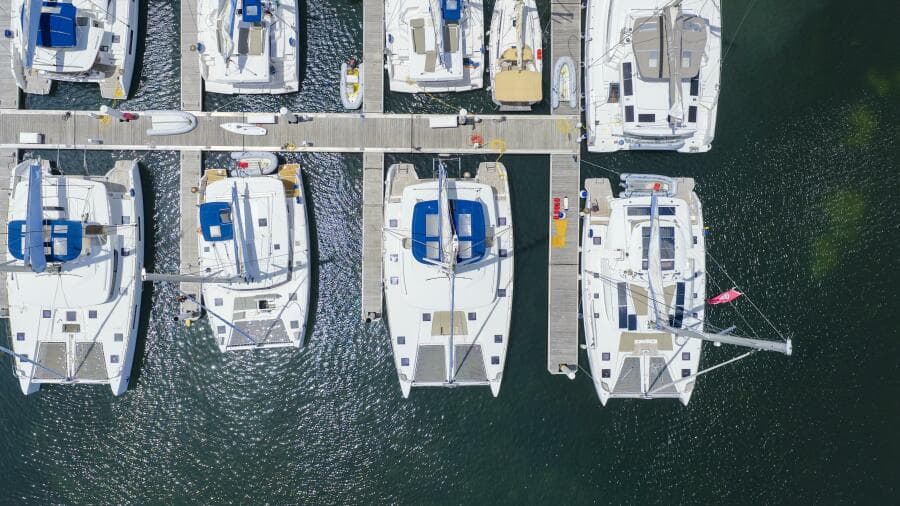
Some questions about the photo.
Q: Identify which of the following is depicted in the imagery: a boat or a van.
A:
boat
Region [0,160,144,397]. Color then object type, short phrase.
white boat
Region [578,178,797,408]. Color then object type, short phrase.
white boat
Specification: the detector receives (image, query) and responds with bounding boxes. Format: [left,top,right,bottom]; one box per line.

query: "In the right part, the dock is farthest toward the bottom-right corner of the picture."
[548,154,578,374]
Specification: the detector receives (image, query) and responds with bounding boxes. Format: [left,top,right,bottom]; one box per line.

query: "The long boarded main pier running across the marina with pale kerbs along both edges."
[0,110,581,154]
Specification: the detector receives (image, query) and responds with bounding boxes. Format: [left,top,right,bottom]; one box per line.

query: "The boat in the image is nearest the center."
[383,154,514,398]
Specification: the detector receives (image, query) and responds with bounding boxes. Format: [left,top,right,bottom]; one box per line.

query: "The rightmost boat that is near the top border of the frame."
[581,0,757,153]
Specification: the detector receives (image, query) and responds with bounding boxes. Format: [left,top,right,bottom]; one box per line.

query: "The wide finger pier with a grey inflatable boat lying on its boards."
[551,0,581,114]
